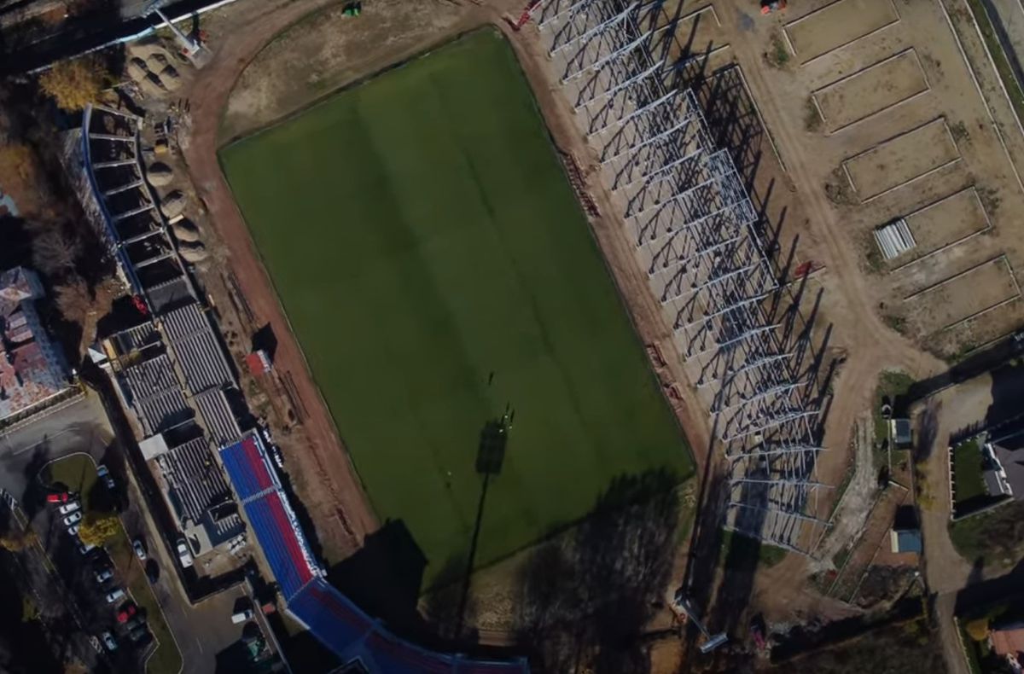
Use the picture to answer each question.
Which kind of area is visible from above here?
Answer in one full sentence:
This looks like a sports ground.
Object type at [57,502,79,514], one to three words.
vehicle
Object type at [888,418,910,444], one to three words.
shed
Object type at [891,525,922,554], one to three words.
shed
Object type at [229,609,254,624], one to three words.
vehicle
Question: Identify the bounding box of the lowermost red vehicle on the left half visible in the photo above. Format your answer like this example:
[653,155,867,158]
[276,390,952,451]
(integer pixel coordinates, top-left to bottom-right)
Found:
[115,608,134,622]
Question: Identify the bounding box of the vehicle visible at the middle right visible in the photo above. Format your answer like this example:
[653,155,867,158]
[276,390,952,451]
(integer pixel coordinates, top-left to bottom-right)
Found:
[795,261,824,280]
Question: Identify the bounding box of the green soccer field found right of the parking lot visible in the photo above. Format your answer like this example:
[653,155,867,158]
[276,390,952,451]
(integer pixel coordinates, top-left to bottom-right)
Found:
[217,25,695,593]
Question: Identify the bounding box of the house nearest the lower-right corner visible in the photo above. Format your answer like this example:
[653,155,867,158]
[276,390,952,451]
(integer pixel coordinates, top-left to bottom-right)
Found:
[980,603,1024,663]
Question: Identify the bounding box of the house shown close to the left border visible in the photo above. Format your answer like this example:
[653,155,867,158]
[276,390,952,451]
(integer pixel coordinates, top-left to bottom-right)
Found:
[0,265,86,413]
